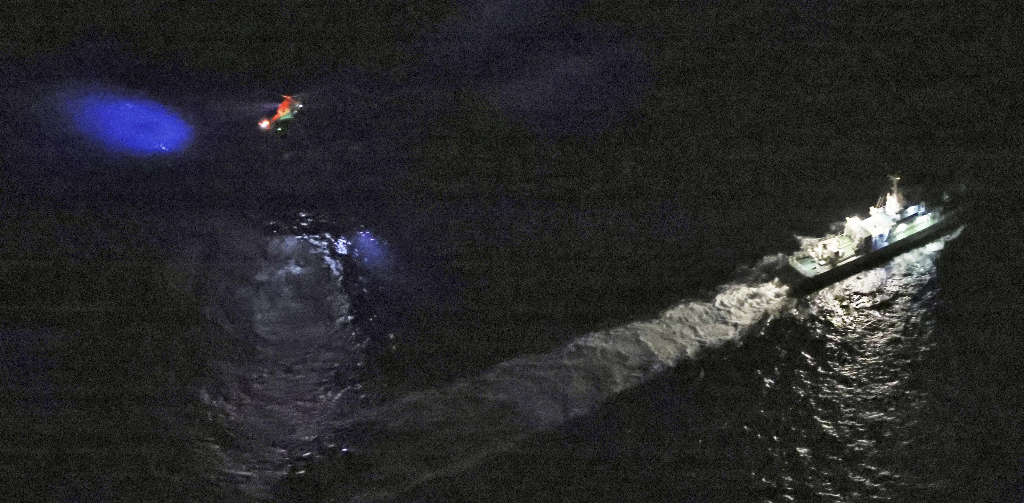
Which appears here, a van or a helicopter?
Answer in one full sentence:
It is a helicopter that can be seen here.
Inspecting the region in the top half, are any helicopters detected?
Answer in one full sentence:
Yes, a helicopter shows up in the top half.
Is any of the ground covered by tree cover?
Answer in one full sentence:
No, there's no tree cover in this view.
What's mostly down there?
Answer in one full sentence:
The bulk of the photo consists of water.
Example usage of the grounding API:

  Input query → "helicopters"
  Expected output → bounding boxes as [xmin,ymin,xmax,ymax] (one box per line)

[257,80,309,130]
